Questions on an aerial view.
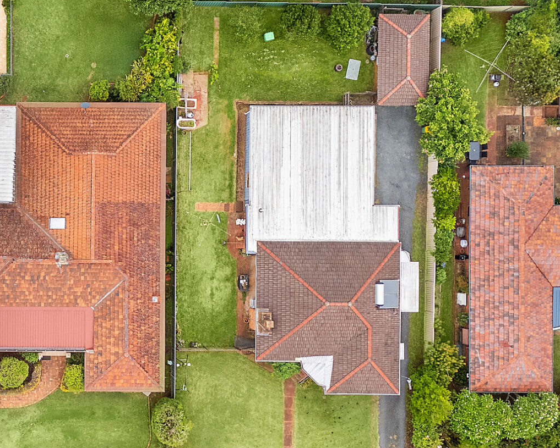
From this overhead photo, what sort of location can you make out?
residential area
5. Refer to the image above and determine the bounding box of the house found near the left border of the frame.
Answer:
[0,101,168,402]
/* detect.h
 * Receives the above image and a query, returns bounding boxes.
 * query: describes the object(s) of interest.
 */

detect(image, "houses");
[465,164,560,394]
[0,101,168,402]
[245,105,428,396]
